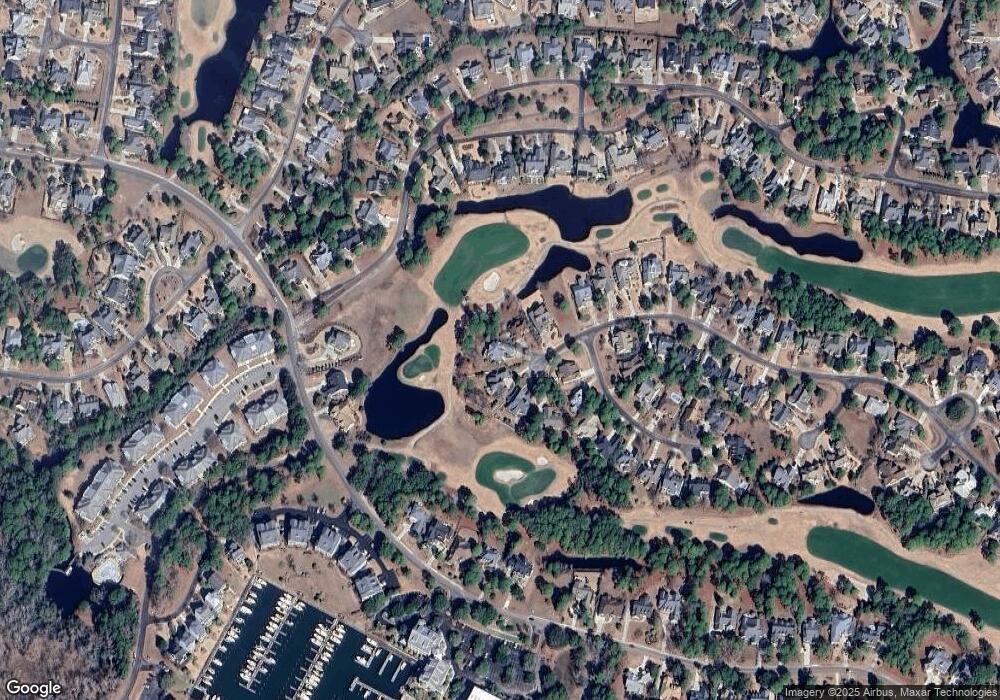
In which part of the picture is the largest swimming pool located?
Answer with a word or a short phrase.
bottom left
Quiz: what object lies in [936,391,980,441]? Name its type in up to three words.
roundabout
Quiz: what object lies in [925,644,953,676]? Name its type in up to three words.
house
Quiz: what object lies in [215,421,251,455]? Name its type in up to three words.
building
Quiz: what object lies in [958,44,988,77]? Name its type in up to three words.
house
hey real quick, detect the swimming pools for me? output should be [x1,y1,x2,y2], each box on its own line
[95,558,119,581]
[423,33,432,49]
[669,391,684,404]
